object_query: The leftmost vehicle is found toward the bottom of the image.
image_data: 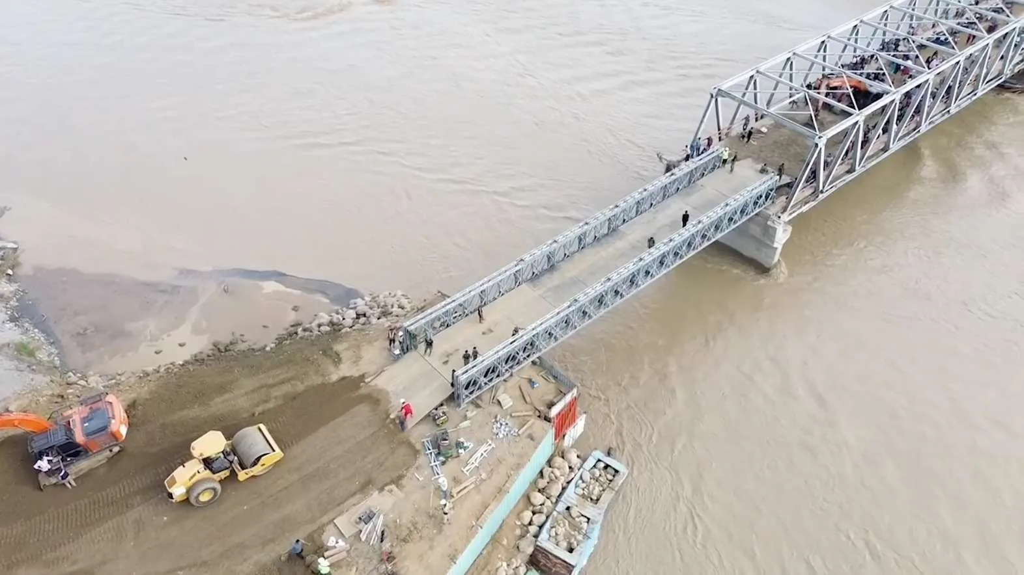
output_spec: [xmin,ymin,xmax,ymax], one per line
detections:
[0,389,131,488]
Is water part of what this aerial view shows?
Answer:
Yes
